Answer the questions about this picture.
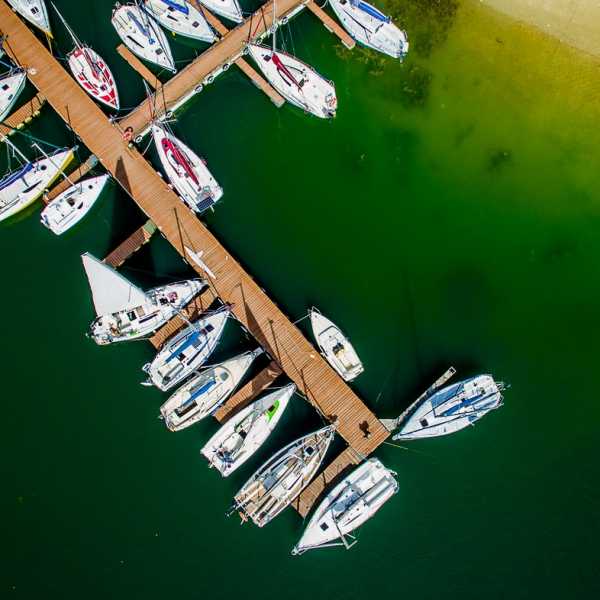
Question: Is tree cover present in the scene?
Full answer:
No, there's no tree cover in this view.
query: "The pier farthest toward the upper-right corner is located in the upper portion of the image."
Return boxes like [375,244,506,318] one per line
[301,0,355,50]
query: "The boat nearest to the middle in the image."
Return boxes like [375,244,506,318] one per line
[285,305,366,386]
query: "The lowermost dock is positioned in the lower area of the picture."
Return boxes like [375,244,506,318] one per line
[292,449,366,520]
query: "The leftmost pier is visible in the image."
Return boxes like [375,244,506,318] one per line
[0,92,51,142]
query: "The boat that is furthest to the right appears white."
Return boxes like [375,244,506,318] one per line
[388,378,509,441]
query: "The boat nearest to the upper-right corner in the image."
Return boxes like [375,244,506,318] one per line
[322,0,414,68]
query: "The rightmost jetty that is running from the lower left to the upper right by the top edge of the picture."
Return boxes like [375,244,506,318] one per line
[117,0,308,144]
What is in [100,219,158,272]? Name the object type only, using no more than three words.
pier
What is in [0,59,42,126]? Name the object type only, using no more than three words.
boat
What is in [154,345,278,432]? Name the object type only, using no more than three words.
boat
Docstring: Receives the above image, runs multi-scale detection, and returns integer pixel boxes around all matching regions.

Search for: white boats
[388,378,509,441]
[0,59,42,126]
[39,147,117,236]
[154,345,278,432]
[56,7,130,124]
[11,0,57,59]
[289,455,401,560]
[158,0,227,50]
[203,0,258,32]
[202,367,321,476]
[141,80,223,214]
[112,0,202,84]
[0,105,91,224]
[322,0,414,68]
[236,0,340,127]
[84,253,210,351]
[141,298,240,393]
[285,305,366,386]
